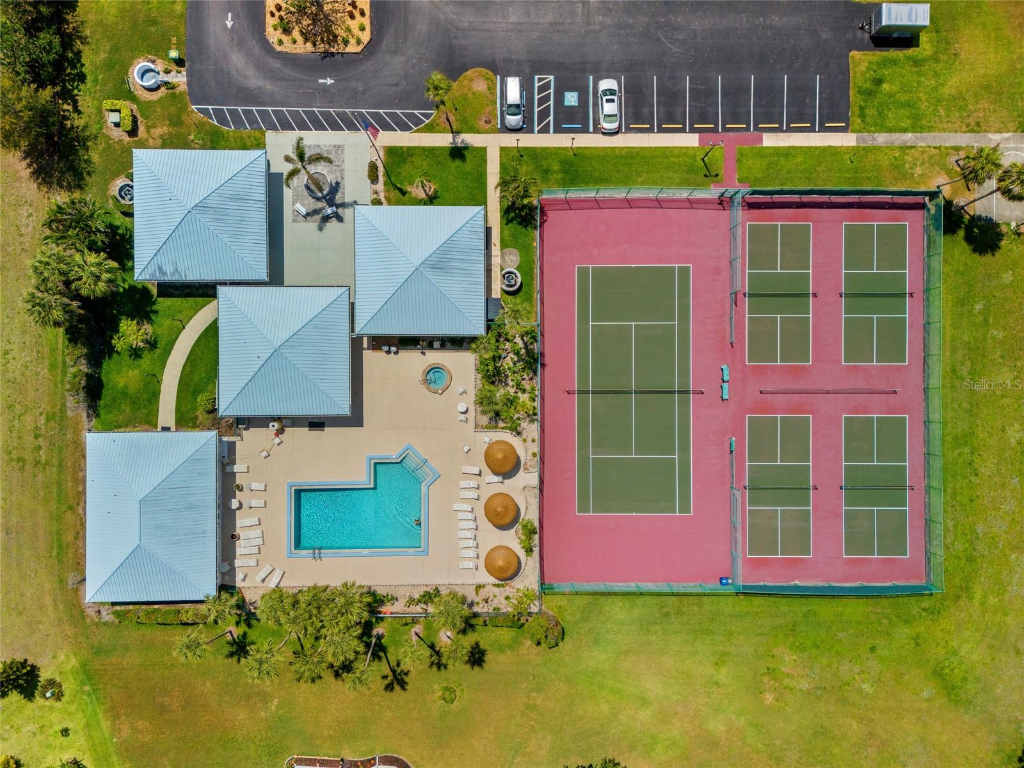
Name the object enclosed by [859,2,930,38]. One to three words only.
trailer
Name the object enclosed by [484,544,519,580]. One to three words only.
umbrella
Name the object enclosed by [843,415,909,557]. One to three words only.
sports court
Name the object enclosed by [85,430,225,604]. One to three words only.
building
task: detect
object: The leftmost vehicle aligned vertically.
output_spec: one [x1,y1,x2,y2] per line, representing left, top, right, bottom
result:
[502,75,526,130]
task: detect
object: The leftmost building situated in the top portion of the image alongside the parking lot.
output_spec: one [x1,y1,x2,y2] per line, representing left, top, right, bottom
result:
[131,149,270,283]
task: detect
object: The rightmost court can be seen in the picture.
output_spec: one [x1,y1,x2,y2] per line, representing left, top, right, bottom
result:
[975,146,1024,222]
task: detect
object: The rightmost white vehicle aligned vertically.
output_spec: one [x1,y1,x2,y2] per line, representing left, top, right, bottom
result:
[599,79,623,133]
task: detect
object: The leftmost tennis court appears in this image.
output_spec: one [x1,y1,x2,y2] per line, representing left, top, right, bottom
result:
[539,197,736,583]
